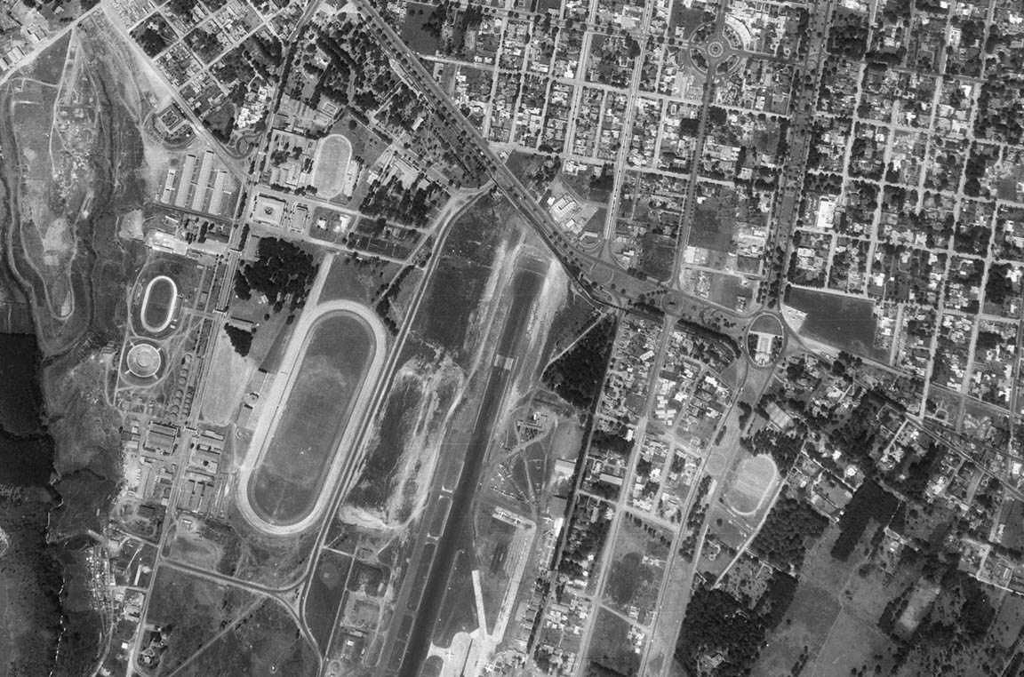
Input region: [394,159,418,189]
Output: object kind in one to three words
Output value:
building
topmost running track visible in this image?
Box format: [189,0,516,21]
[312,135,354,198]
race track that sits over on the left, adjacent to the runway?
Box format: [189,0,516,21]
[239,254,387,535]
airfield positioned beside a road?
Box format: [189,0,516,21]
[375,264,544,677]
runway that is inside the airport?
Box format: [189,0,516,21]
[400,264,540,677]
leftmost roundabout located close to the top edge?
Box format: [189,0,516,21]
[689,23,743,75]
